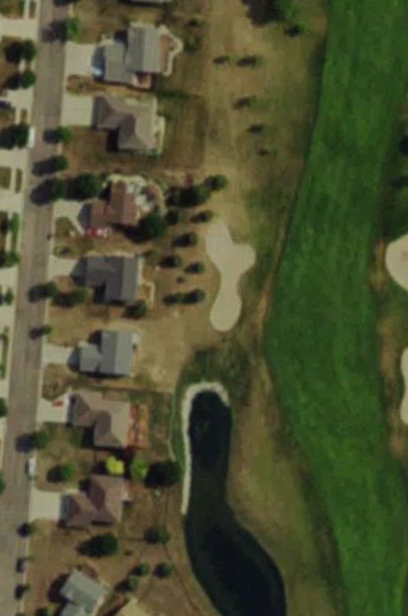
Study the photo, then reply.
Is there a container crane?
No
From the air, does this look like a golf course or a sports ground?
golf course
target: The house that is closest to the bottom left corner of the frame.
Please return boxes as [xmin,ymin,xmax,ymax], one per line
[51,568,109,616]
